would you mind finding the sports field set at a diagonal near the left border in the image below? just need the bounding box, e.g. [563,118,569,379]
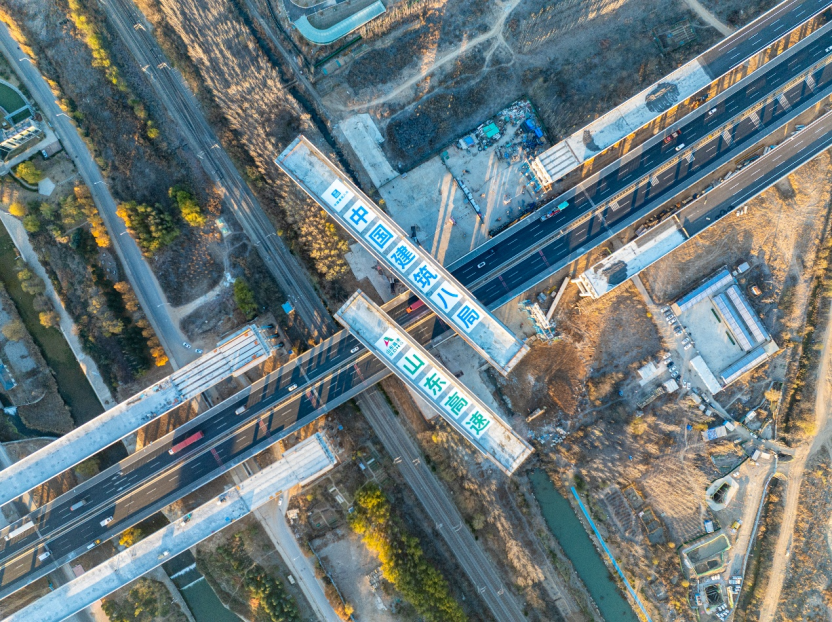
[0,77,39,124]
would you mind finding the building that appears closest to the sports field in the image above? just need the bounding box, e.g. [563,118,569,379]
[0,110,41,151]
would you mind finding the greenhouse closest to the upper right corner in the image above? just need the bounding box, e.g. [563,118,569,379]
[647,18,696,60]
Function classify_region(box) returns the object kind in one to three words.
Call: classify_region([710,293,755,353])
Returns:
building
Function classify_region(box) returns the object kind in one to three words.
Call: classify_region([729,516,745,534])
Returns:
vehicle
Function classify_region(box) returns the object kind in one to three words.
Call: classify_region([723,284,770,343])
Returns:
building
